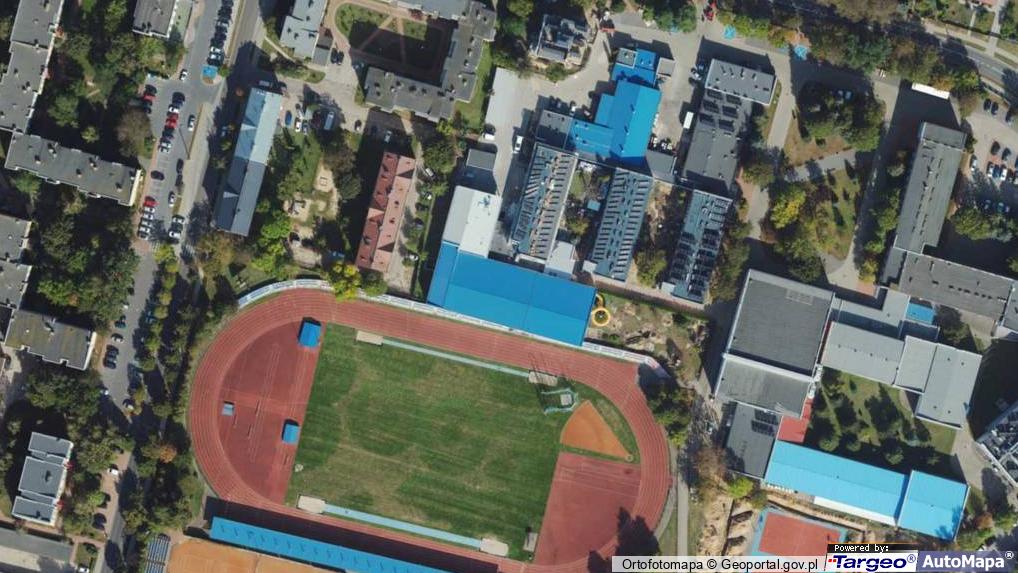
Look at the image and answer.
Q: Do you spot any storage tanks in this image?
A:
No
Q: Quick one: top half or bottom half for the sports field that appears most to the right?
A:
bottom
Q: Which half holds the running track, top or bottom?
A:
bottom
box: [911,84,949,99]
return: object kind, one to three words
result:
vehicle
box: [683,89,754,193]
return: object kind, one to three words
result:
building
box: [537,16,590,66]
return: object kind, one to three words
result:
house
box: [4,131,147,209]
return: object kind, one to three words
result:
building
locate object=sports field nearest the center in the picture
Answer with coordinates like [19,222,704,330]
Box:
[284,322,638,565]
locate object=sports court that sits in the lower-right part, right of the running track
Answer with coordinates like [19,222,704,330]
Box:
[746,502,849,573]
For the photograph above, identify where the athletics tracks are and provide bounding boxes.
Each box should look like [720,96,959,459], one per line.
[188,288,671,573]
